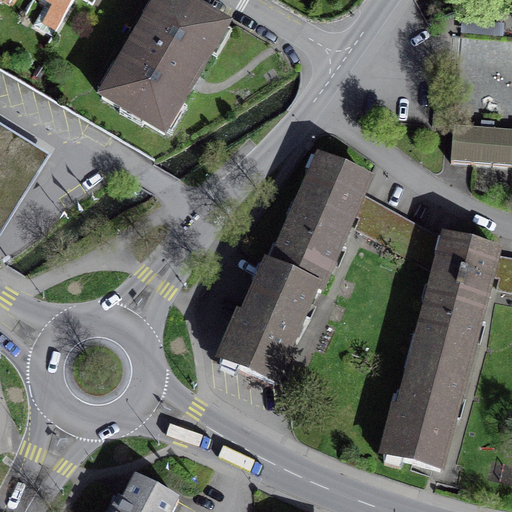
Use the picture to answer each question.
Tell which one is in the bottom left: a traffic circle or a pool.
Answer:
traffic circle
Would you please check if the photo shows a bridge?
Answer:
Yes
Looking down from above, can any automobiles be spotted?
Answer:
Yes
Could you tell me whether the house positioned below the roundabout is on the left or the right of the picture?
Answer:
left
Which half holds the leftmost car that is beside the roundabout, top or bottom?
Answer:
bottom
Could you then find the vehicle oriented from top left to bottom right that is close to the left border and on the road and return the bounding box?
[0,332,20,354]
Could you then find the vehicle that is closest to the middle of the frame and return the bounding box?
[237,258,256,274]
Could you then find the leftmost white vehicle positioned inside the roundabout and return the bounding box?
[48,350,60,372]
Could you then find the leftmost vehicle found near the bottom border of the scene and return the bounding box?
[8,480,25,508]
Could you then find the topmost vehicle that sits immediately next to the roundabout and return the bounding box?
[100,292,122,310]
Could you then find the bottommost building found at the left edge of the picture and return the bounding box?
[0,114,55,235]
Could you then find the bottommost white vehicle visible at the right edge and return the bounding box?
[472,214,497,230]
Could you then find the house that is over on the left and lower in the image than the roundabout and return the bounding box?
[106,472,180,512]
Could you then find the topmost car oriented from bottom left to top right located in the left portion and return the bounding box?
[81,172,104,190]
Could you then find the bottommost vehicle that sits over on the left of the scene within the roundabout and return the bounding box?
[97,422,120,439]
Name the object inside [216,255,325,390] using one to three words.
building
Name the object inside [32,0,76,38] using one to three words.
house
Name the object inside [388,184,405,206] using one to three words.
car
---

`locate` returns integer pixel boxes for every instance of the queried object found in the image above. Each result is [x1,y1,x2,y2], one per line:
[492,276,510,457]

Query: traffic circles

[26,302,170,442]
